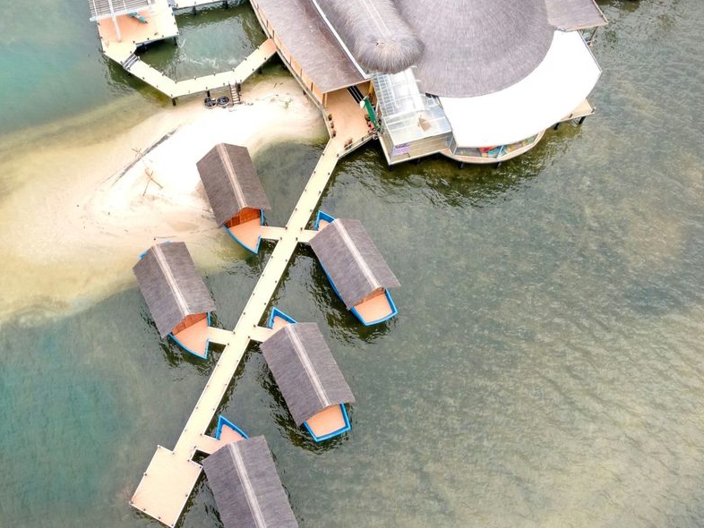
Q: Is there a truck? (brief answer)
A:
No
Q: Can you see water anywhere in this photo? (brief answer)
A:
Yes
